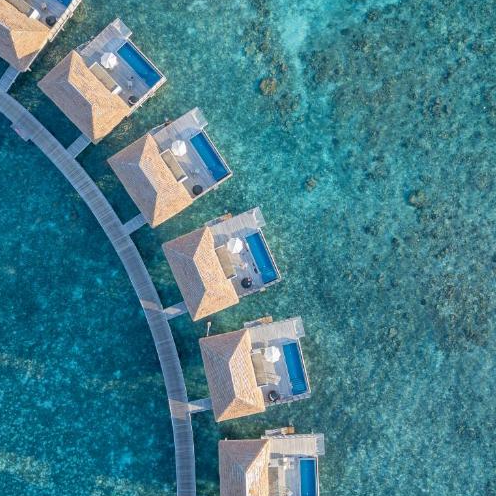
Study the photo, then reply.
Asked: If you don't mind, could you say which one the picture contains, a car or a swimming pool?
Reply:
swimming pool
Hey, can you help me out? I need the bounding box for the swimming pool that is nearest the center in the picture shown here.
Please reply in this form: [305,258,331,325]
[244,228,282,287]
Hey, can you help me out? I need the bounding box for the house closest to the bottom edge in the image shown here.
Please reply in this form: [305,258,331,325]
[220,424,327,496]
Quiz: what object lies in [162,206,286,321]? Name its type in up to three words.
house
